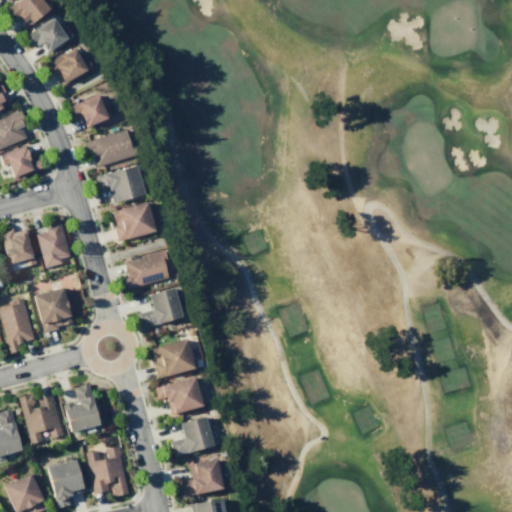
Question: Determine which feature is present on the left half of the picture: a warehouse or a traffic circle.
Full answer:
What appears on the left half of the picture is a traffic circle.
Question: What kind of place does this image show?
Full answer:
The area seen from above is a golf course.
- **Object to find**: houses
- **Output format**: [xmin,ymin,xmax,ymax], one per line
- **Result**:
[152,340,198,378]
[36,288,74,332]
[0,300,32,354]
[139,289,184,325]
[86,448,129,496]
[14,0,51,24]
[66,383,101,432]
[156,376,206,416]
[6,476,44,512]
[50,49,89,83]
[0,110,30,150]
[72,96,111,128]
[48,460,84,508]
[171,419,215,455]
[2,228,36,264]
[112,202,158,240]
[0,408,20,455]
[96,165,143,202]
[36,225,70,267]
[2,144,44,180]
[124,250,171,285]
[20,394,66,446]
[32,18,70,52]
[186,458,226,495]
[198,498,228,512]
[83,130,138,166]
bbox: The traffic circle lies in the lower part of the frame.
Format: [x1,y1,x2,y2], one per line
[82,320,138,376]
